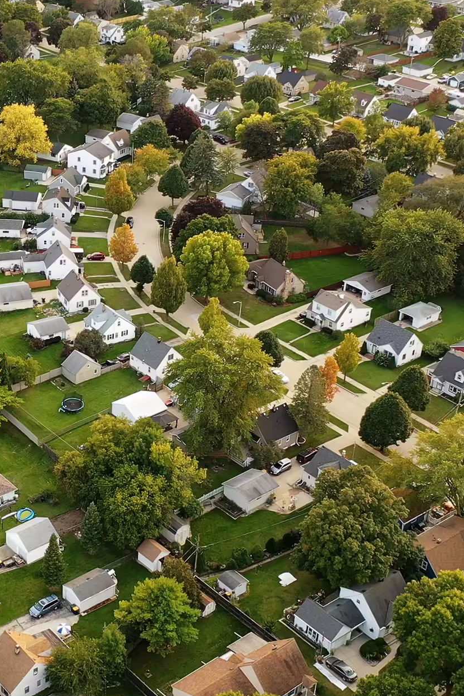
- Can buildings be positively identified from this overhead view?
Yes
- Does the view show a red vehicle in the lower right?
No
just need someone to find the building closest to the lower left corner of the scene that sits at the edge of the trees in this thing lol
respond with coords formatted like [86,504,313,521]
[0,623,58,696]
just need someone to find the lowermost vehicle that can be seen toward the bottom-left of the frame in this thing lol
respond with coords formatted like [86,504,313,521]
[29,593,64,618]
